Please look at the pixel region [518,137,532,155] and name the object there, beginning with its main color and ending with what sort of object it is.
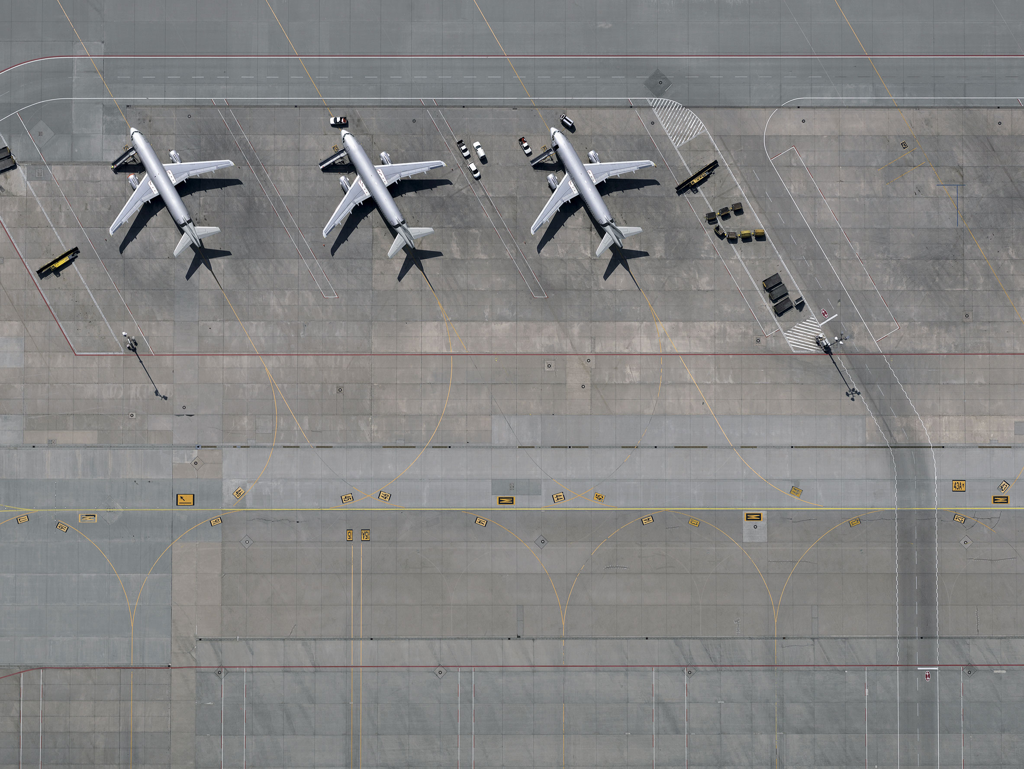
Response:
white vehicle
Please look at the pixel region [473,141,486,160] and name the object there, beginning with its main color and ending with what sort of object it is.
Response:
white vehicle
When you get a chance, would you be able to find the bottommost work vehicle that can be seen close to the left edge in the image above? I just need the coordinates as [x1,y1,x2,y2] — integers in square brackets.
[35,247,78,273]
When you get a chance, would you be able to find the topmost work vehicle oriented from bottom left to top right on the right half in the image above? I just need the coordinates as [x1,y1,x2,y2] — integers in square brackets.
[676,162,717,189]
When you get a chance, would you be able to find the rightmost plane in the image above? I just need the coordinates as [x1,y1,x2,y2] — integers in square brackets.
[529,128,656,257]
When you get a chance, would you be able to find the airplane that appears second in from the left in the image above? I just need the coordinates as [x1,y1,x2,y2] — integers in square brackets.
[322,130,447,258]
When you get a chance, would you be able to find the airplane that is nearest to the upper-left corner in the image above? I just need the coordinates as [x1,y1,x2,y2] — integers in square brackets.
[109,128,234,257]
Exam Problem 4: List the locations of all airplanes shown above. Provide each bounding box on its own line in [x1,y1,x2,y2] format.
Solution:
[322,130,447,258]
[529,128,656,257]
[109,128,234,257]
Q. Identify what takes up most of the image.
paved ground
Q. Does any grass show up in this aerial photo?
No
